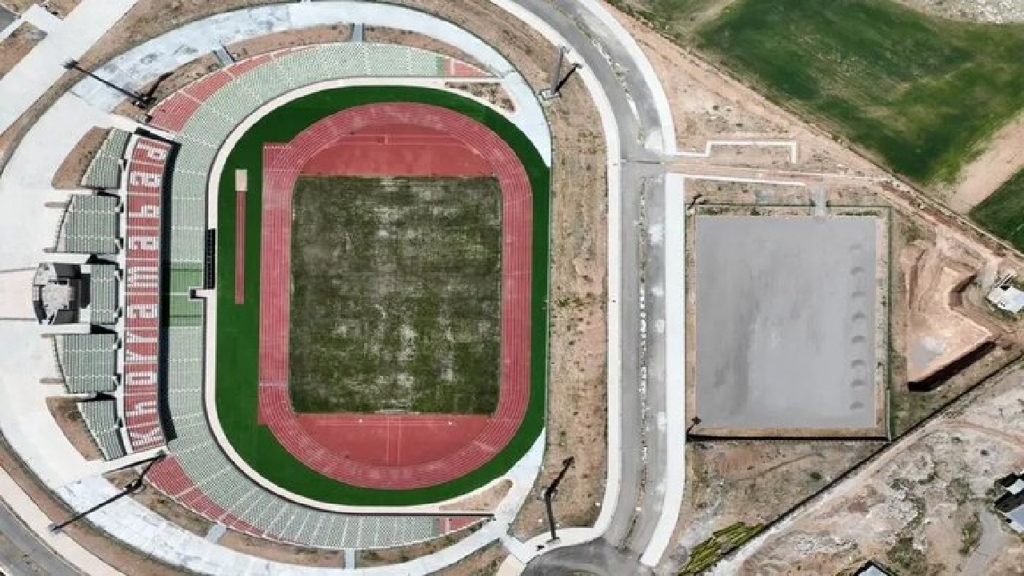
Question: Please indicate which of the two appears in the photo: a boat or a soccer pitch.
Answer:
soccer pitch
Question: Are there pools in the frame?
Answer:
No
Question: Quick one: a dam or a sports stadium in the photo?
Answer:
sports stadium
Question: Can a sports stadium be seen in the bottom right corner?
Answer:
No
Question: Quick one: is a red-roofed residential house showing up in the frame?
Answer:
No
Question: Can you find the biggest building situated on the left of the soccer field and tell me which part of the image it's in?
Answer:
left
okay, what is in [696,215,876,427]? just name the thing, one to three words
sports court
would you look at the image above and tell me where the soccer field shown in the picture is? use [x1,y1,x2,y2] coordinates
[291,177,501,413]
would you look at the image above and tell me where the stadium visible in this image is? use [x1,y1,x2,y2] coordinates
[39,23,496,568]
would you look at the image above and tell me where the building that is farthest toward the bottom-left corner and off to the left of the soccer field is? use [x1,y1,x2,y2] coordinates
[33,264,92,323]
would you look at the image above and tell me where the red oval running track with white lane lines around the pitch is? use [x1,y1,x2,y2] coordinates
[259,102,533,490]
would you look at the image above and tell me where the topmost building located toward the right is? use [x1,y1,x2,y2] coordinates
[983,278,1024,314]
